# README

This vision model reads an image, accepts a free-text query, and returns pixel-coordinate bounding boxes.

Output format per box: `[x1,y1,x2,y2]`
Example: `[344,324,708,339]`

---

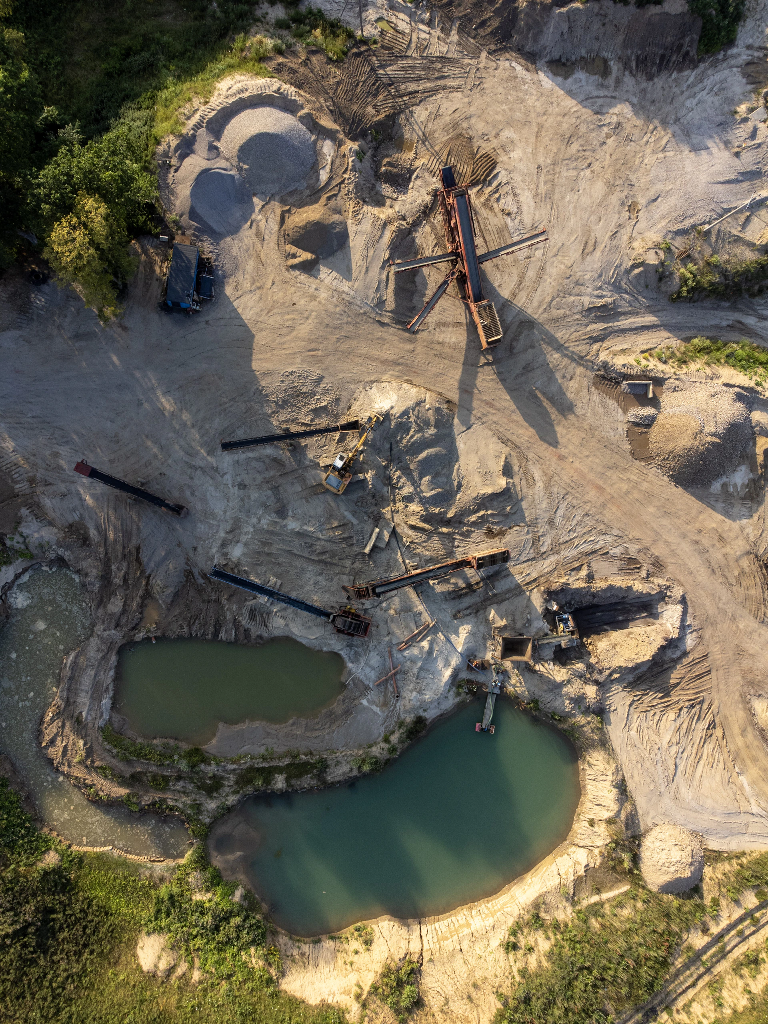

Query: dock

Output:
[474,692,497,734]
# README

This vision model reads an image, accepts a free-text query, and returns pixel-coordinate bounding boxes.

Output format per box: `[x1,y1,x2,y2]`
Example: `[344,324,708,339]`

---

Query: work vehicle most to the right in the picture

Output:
[321,413,378,491]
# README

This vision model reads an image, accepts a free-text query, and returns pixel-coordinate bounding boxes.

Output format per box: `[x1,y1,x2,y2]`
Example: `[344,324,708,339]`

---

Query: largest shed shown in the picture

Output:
[166,242,203,311]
